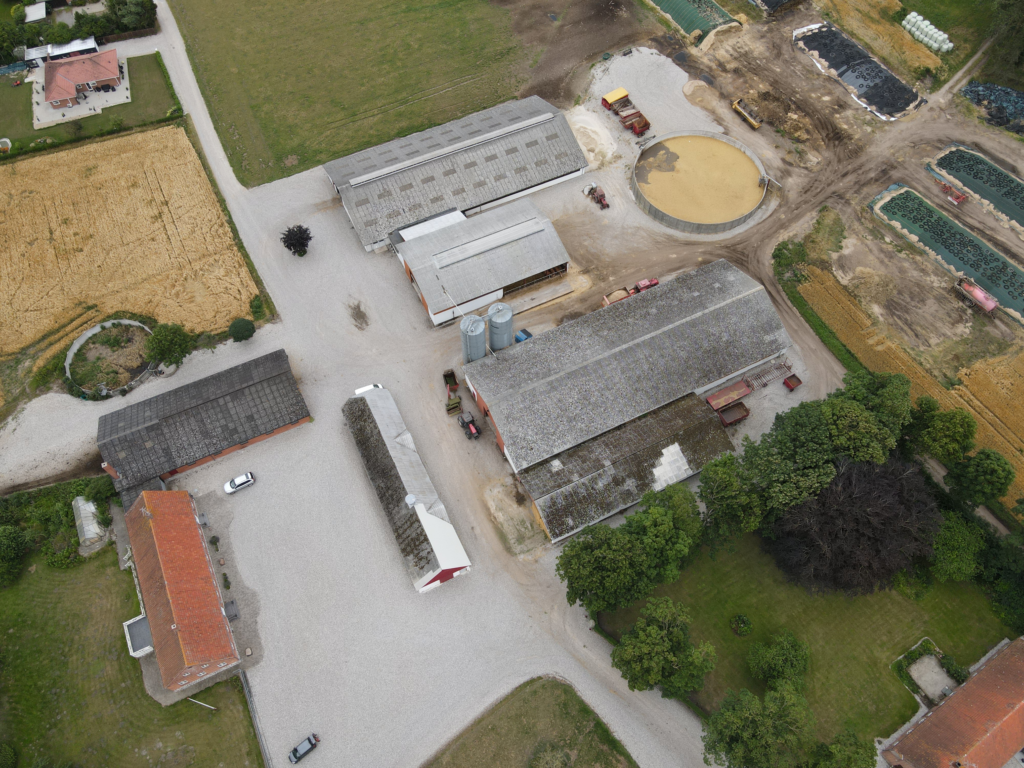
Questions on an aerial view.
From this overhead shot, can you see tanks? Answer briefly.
Yes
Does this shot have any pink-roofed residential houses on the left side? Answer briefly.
Yes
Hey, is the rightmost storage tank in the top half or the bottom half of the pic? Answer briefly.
top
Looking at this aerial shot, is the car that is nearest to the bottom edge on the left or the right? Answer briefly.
left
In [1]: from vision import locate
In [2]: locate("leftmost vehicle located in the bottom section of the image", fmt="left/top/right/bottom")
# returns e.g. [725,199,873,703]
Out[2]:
[221,470,257,495]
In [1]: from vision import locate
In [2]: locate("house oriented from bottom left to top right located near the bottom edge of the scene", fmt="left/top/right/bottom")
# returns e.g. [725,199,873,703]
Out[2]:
[886,637,1024,768]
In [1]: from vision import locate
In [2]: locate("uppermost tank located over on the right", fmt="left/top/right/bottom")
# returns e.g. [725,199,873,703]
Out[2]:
[633,129,766,235]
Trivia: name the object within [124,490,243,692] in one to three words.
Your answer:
house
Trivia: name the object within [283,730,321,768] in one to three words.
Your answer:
car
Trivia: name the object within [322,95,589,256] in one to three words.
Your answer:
barn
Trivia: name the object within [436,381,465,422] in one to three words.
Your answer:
work vehicle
